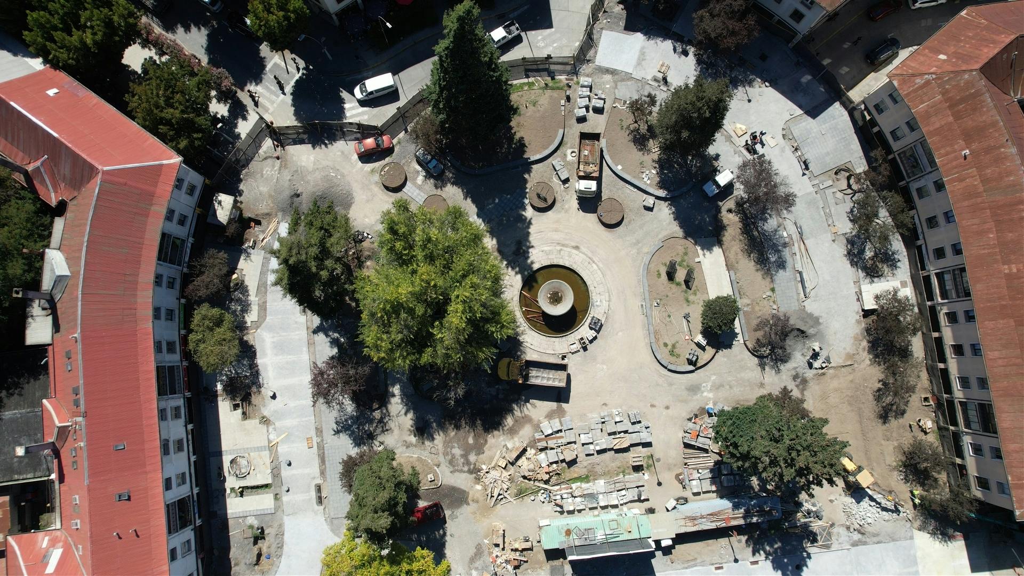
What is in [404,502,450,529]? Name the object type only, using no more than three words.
truck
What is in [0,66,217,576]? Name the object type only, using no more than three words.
building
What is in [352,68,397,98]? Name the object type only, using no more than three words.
van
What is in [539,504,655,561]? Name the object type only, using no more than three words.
shed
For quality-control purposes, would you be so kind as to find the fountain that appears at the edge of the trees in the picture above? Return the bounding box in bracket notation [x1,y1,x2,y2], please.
[518,263,592,337]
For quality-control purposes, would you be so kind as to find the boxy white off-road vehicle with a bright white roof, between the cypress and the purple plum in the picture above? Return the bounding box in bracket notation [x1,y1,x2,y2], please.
[704,165,740,196]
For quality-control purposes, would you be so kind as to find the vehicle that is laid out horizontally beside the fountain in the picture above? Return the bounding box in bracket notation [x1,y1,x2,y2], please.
[497,356,571,387]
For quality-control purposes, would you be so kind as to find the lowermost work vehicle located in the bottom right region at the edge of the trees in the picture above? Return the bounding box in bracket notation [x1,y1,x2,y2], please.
[832,440,908,510]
